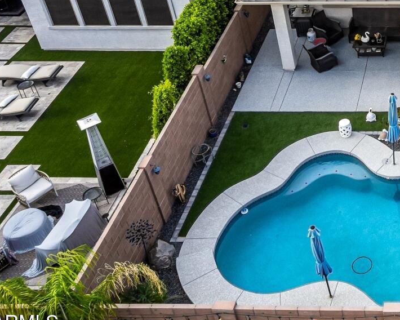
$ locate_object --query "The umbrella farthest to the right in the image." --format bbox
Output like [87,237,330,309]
[383,92,400,165]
